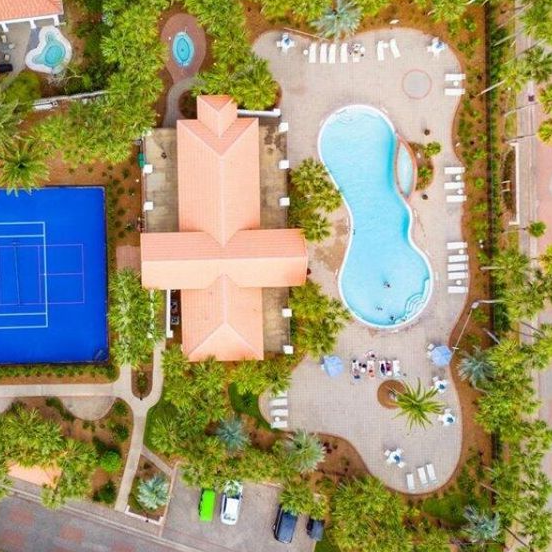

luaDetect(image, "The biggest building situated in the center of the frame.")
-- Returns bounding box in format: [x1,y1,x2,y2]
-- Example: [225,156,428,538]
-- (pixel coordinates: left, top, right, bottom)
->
[140,95,313,361]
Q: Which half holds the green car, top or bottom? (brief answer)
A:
bottom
